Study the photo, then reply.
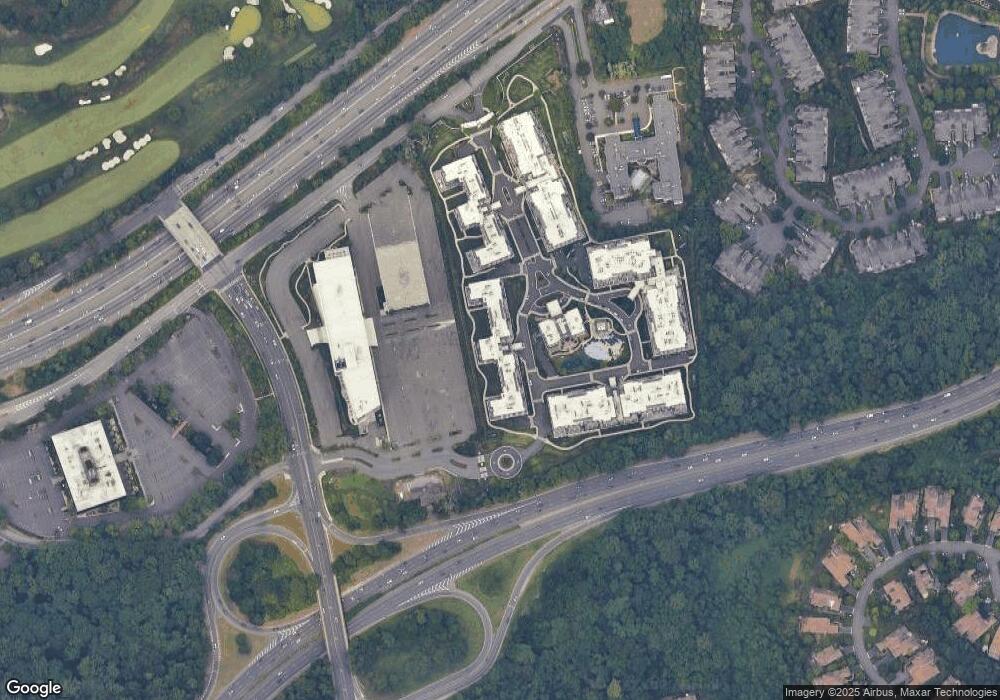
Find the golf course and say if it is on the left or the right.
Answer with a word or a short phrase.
left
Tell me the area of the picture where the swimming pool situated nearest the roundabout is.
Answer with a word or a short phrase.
center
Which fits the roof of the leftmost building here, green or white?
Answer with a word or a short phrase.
white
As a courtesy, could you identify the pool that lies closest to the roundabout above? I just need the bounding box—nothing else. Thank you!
[583,339,622,361]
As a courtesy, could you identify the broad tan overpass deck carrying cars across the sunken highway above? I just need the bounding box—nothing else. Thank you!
[157,198,226,270]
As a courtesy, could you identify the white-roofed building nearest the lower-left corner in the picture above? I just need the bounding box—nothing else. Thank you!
[52,421,127,514]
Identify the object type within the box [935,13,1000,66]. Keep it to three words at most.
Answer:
pond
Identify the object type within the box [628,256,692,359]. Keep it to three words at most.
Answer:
building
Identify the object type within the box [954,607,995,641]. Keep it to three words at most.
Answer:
house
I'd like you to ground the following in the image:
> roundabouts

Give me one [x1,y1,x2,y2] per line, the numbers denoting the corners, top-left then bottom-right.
[490,446,522,478]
